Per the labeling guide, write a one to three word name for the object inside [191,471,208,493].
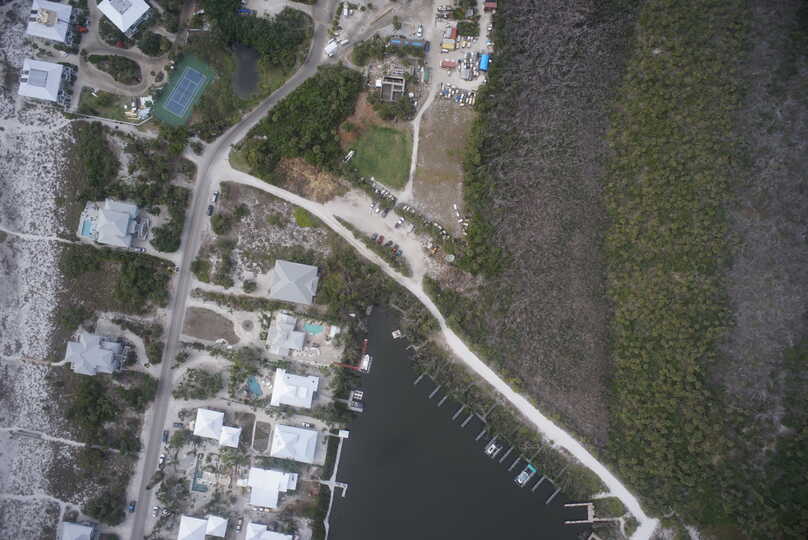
swimming pool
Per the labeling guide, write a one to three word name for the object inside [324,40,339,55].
vehicle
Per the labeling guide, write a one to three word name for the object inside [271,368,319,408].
house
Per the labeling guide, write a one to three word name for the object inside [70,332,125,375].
house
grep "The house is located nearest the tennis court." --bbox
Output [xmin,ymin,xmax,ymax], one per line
[98,0,159,39]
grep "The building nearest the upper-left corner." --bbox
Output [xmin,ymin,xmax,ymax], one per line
[26,0,85,47]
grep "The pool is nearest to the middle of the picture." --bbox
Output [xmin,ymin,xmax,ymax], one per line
[302,322,326,335]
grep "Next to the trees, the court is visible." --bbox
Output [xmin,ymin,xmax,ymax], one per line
[153,52,214,125]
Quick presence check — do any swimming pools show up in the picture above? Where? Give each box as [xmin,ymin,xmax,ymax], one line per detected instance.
[191,471,208,493]
[246,374,262,397]
[81,219,93,236]
[302,322,326,335]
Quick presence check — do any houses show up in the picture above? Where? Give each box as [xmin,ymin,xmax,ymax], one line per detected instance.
[26,0,85,47]
[70,332,125,375]
[271,424,319,463]
[271,368,319,408]
[178,515,228,540]
[268,260,319,305]
[60,518,104,540]
[97,200,148,247]
[246,522,293,540]
[266,313,305,356]
[194,408,241,448]
[237,467,297,508]
[98,0,159,39]
[18,58,77,104]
